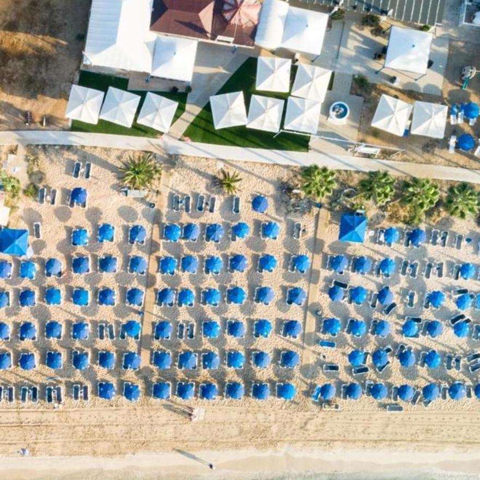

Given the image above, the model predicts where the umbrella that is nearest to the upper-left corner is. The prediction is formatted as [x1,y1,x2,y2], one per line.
[66,85,104,125]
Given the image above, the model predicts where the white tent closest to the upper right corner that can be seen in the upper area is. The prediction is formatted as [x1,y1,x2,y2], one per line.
[373,26,433,82]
